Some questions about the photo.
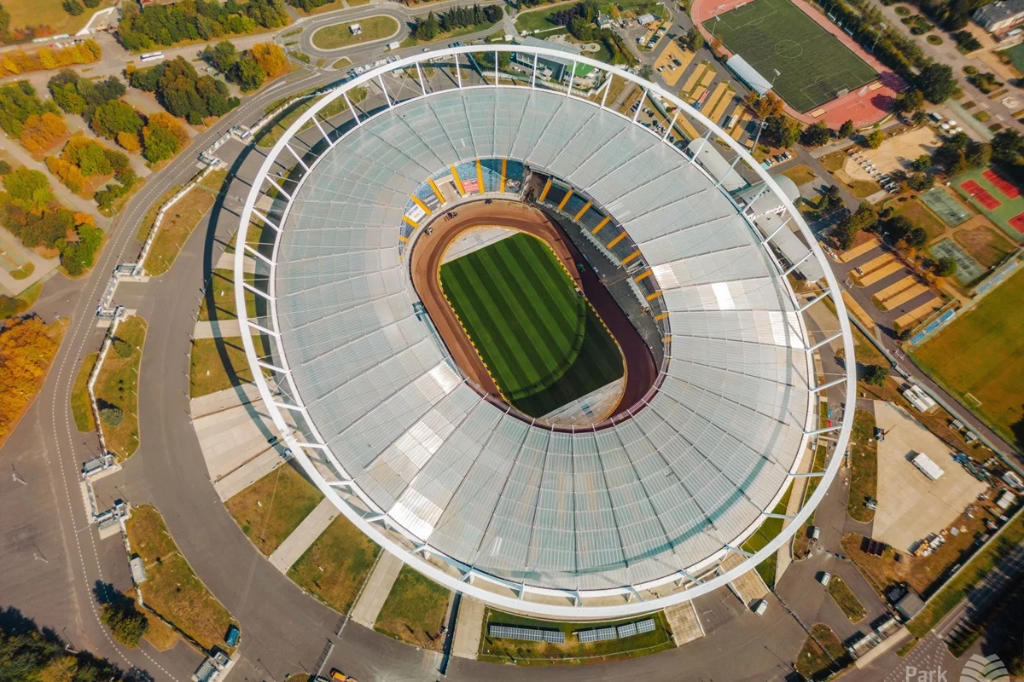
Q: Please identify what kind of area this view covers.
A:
sports ground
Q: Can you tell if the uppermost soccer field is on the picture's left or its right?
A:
right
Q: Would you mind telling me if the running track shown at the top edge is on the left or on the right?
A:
right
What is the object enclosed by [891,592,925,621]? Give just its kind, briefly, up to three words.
building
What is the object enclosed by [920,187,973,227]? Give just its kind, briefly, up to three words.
tennis court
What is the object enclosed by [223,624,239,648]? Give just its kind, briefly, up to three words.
vehicle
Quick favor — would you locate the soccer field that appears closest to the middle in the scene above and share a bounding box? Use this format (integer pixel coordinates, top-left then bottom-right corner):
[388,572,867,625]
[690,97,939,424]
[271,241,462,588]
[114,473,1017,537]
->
[441,226,625,429]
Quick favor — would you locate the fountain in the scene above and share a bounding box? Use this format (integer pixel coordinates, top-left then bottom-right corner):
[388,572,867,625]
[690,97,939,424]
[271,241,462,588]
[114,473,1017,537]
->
[999,94,1022,110]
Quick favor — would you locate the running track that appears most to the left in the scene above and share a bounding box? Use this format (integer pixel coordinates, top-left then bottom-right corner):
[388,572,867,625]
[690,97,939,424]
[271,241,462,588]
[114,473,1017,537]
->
[410,197,662,446]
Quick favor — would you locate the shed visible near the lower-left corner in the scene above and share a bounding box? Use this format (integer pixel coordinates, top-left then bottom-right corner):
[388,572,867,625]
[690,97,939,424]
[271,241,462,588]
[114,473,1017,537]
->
[130,557,150,584]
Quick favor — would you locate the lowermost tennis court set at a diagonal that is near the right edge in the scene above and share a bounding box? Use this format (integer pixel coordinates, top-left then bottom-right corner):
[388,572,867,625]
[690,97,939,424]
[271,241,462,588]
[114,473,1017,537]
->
[930,239,986,282]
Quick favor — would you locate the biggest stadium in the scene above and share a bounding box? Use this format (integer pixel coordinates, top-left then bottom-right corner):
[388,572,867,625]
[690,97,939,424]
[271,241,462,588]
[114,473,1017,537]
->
[234,45,858,618]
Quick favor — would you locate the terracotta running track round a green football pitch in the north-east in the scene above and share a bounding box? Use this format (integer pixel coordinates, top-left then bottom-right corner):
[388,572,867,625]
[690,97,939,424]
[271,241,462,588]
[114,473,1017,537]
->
[687,0,907,129]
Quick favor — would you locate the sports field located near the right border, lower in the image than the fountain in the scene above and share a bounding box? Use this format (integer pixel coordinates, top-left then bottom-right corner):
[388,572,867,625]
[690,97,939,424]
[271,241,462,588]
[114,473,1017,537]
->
[917,271,1024,429]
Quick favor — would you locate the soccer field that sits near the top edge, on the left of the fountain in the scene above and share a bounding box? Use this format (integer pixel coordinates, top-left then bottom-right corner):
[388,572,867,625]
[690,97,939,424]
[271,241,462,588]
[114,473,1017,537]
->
[701,0,881,113]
